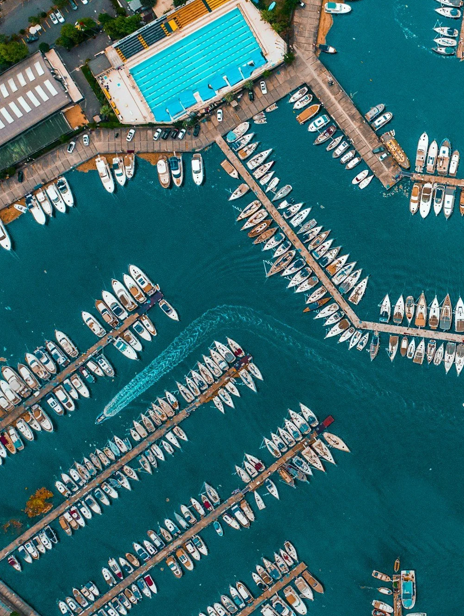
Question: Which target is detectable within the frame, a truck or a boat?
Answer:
boat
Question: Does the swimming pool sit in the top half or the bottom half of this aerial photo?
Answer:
top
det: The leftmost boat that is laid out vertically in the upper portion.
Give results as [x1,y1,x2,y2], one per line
[0,219,12,249]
